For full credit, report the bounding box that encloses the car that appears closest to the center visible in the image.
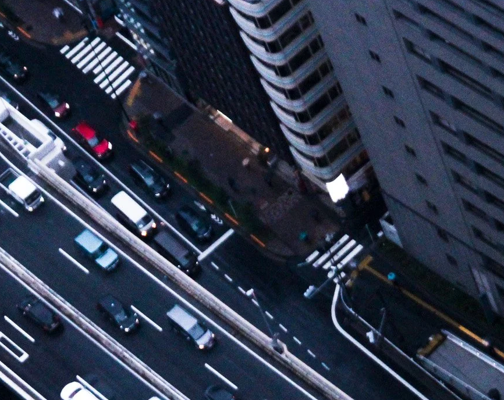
[171,203,218,244]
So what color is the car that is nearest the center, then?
black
